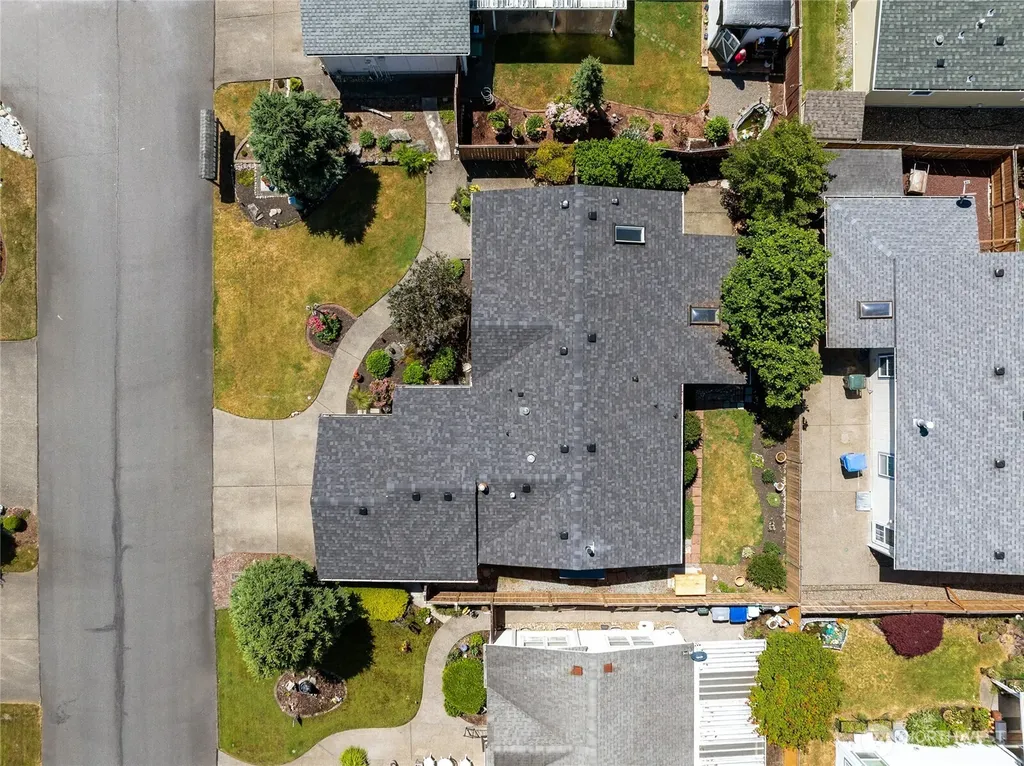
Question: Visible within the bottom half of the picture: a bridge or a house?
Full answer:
Looking within the bottom half of the picture, you will find a house.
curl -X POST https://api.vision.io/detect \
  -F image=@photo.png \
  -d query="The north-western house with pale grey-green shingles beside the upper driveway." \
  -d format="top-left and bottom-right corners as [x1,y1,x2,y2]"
[300,0,470,75]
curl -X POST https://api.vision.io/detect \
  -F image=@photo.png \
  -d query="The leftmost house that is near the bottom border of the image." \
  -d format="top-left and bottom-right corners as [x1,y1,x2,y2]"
[484,630,694,766]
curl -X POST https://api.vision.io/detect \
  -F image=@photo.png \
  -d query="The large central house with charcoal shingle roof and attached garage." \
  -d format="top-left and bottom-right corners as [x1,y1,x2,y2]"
[311,184,750,584]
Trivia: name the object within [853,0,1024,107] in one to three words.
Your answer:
house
